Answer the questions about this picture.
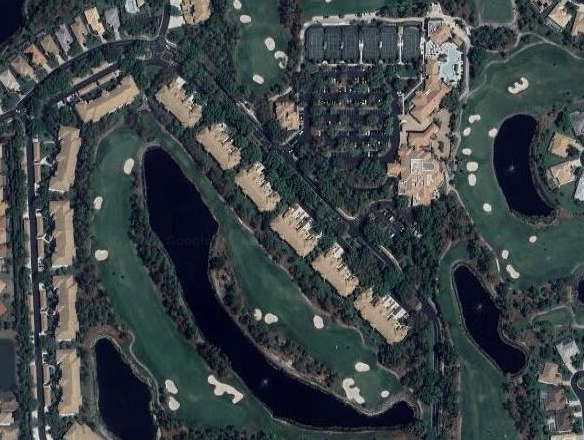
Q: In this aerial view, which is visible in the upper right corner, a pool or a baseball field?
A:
pool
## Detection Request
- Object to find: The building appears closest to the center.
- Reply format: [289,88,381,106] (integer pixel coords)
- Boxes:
[271,206,322,257]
